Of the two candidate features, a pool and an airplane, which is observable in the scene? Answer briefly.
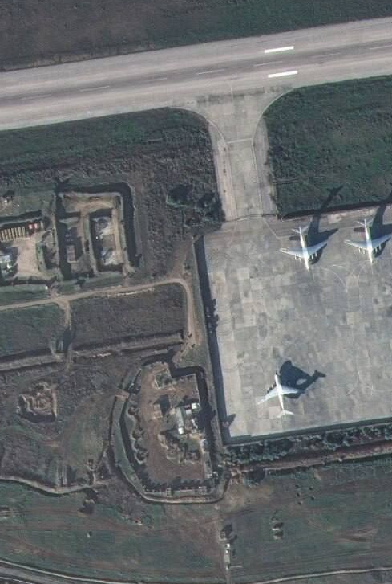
airplane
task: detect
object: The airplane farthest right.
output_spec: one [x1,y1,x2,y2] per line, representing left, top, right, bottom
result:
[343,220,391,265]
